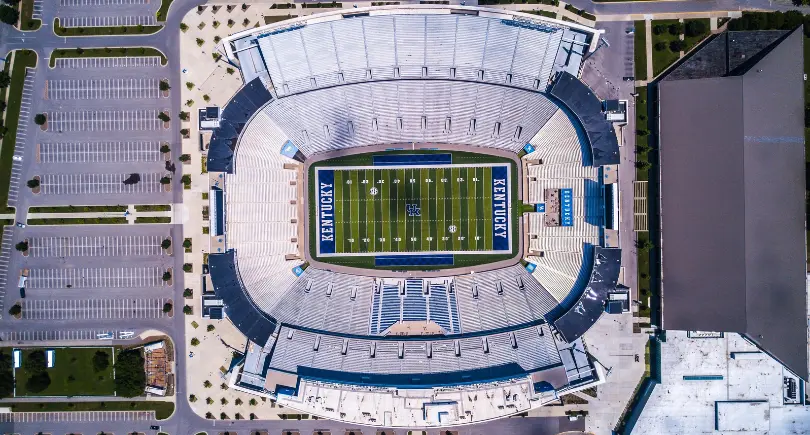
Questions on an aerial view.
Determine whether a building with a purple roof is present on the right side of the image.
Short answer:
No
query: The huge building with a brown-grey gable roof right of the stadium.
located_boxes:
[653,25,808,382]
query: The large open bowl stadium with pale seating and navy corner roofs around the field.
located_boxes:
[197,4,632,429]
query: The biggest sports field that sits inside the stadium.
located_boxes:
[309,149,520,269]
